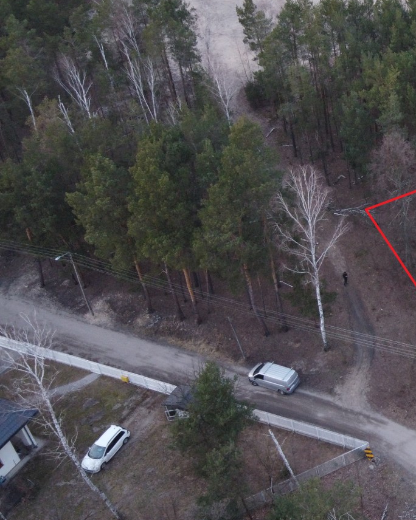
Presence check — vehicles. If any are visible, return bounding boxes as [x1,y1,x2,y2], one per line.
[244,367,299,401]
[81,423,129,469]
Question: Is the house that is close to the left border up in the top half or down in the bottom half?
bottom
